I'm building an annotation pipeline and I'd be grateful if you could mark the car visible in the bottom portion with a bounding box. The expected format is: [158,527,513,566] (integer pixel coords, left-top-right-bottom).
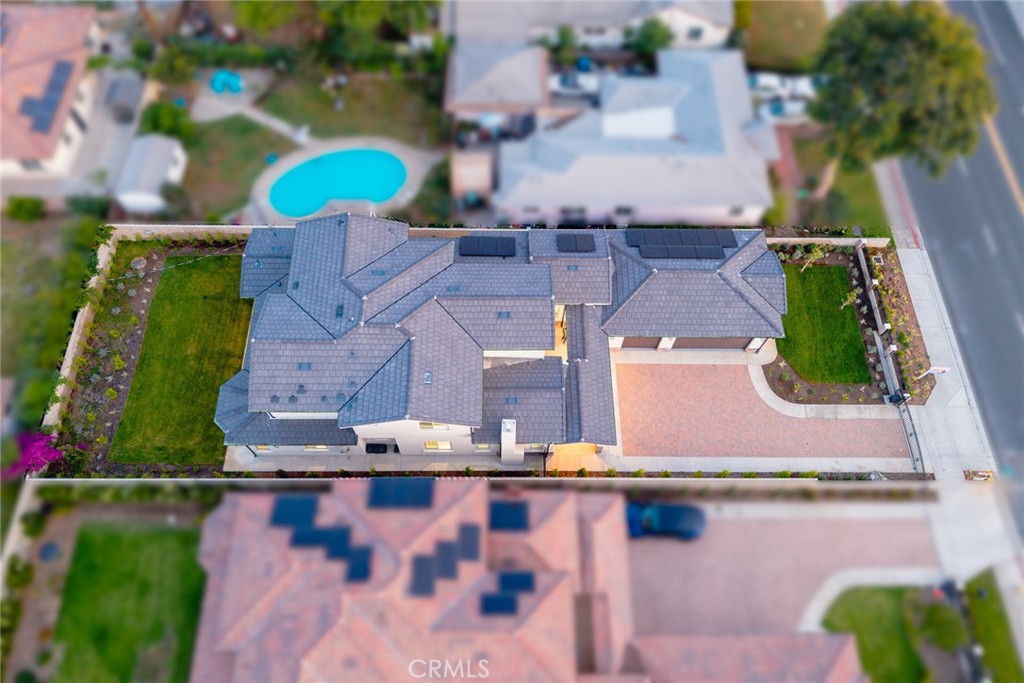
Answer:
[625,498,708,542]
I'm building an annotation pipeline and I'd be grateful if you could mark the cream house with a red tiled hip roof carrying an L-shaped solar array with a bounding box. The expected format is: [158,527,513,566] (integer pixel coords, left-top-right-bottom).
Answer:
[0,0,122,186]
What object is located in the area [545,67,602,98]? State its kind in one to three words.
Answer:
car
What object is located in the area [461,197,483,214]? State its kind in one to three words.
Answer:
umbrella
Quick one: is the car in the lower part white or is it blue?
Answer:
blue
